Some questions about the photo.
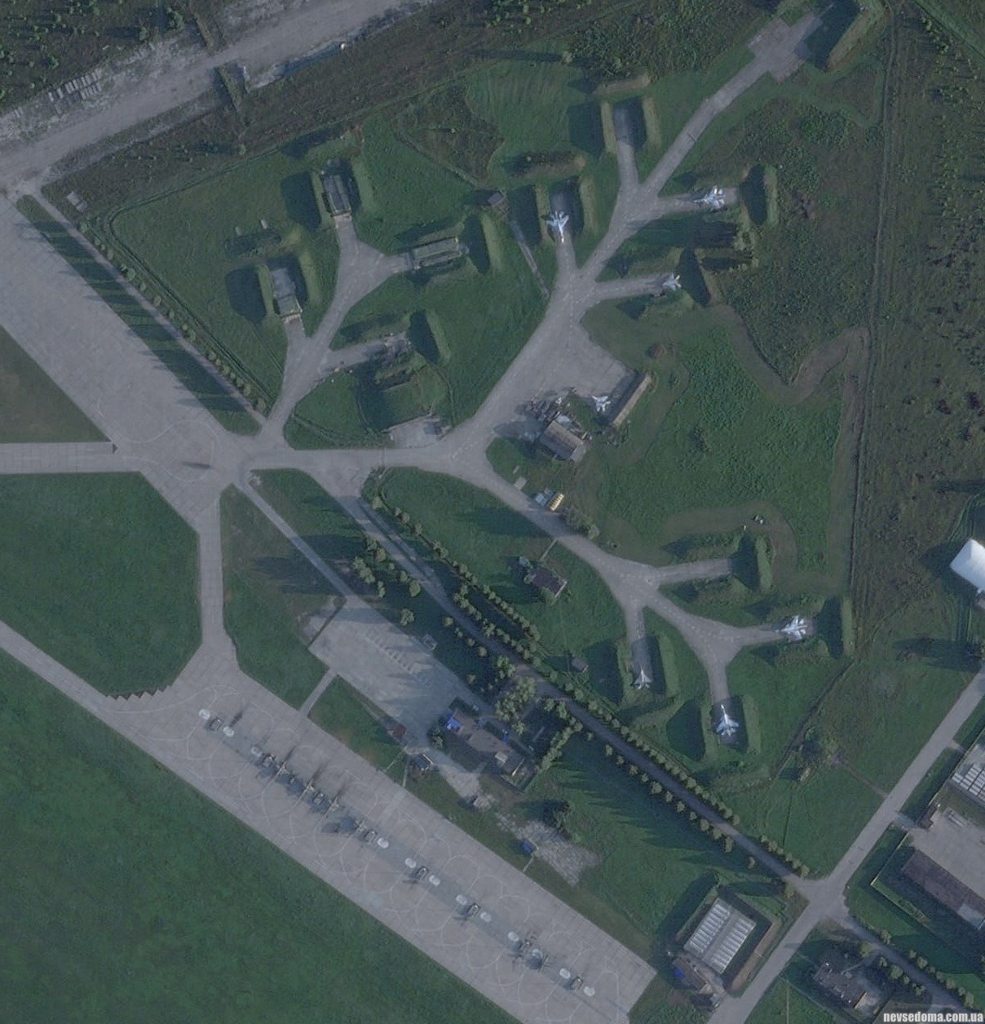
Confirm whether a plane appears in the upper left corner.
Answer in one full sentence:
No, I see no plane in the upper left corner.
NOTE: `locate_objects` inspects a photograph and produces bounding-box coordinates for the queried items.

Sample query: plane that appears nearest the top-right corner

[695,187,727,208]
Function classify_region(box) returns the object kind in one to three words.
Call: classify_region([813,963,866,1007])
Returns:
house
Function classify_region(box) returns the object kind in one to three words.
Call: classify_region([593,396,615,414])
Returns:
airplane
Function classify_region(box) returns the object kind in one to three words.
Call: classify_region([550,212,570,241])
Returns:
airplane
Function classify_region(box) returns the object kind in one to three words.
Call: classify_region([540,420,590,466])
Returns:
building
